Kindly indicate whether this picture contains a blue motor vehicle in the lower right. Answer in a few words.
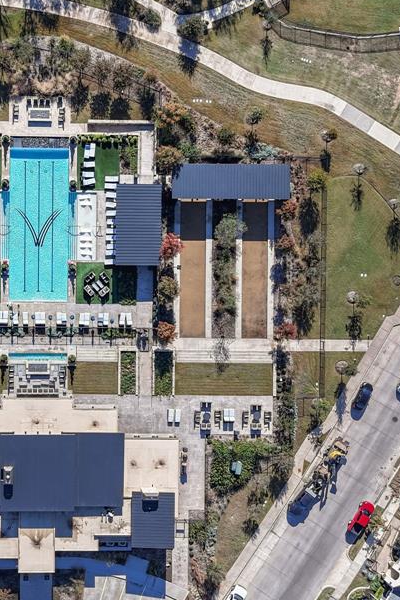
Yes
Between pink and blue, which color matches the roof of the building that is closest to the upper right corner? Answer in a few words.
blue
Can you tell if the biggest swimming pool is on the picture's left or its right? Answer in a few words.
left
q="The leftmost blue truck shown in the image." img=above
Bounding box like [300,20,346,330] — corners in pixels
[290,486,321,527]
